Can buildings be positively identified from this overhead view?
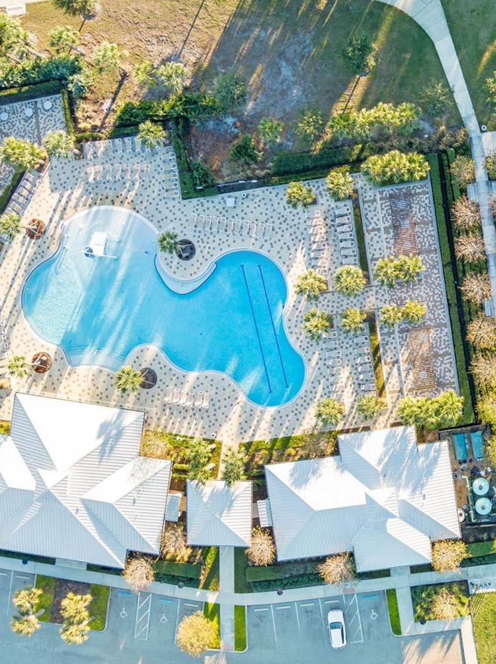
Yes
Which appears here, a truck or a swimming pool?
swimming pool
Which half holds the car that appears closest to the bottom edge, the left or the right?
right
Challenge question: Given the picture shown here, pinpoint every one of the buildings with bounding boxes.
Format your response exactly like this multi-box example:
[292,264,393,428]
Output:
[264,425,461,573]
[186,477,258,548]
[0,392,175,569]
